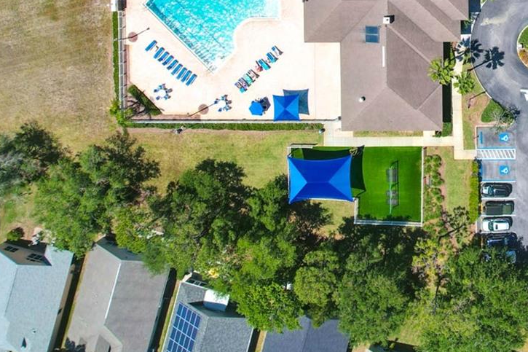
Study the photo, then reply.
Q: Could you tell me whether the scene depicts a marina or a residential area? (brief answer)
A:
residential area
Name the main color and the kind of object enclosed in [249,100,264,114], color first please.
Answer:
blue umbrella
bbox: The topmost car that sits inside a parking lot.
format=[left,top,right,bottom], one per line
[482,183,511,197]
